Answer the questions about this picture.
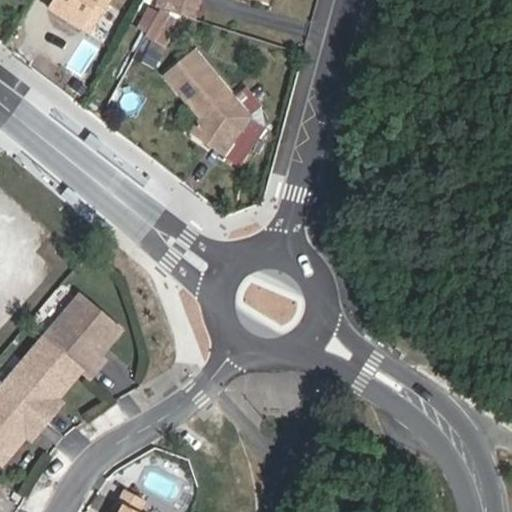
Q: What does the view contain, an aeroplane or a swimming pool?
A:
swimming pool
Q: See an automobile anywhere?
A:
Yes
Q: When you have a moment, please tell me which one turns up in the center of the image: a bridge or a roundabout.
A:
roundabout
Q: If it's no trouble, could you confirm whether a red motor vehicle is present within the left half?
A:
No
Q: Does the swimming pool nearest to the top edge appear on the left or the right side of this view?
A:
left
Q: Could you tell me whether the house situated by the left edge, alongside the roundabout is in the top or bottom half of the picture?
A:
bottom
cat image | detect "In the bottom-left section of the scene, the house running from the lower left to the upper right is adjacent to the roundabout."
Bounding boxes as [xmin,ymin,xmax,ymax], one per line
[0,294,124,472]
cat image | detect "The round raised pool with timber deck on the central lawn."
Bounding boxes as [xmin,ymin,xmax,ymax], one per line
[119,86,147,118]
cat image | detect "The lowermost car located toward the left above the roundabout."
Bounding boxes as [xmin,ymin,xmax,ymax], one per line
[192,161,208,182]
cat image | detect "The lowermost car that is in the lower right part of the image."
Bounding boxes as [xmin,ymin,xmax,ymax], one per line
[412,381,433,400]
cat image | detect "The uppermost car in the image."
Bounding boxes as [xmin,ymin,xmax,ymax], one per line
[44,32,66,49]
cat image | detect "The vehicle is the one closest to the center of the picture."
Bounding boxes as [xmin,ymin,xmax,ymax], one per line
[300,254,312,278]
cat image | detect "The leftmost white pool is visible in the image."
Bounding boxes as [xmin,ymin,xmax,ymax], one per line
[66,38,100,77]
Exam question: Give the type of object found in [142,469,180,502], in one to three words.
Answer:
swimming pool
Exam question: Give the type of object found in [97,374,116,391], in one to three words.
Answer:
car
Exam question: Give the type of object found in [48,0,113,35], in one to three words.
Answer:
house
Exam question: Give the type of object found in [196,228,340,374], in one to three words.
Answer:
roundabout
